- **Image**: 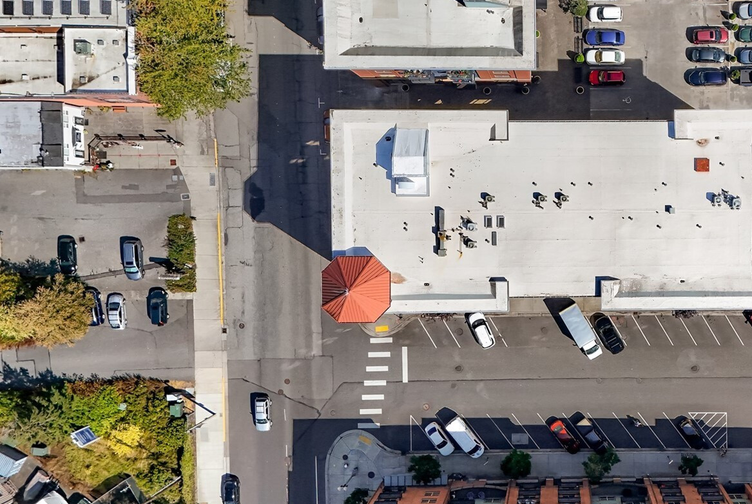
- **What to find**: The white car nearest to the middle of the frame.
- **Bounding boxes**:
[467,314,495,350]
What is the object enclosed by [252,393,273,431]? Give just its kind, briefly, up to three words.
car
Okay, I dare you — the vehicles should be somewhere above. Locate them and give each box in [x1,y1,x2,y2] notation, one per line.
[737,24,752,43]
[148,288,170,325]
[557,302,603,365]
[467,314,495,350]
[547,416,579,452]
[632,416,643,430]
[107,293,128,329]
[737,1,752,20]
[736,46,752,64]
[690,45,725,64]
[738,69,752,86]
[324,107,341,145]
[585,28,624,46]
[444,411,485,460]
[585,48,624,65]
[58,237,80,275]
[86,287,107,325]
[122,238,144,279]
[571,411,608,454]
[423,419,454,456]
[674,412,707,449]
[692,26,729,44]
[687,69,726,87]
[593,312,623,354]
[588,5,623,23]
[252,393,273,431]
